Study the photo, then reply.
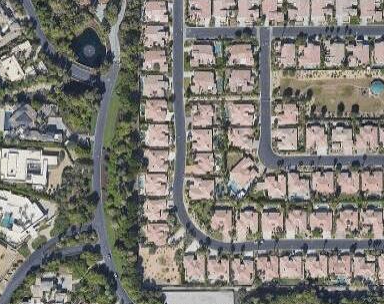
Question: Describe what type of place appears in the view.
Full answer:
The picture captures a residential area.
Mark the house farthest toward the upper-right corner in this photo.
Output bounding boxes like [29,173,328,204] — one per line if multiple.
[361,0,383,22]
